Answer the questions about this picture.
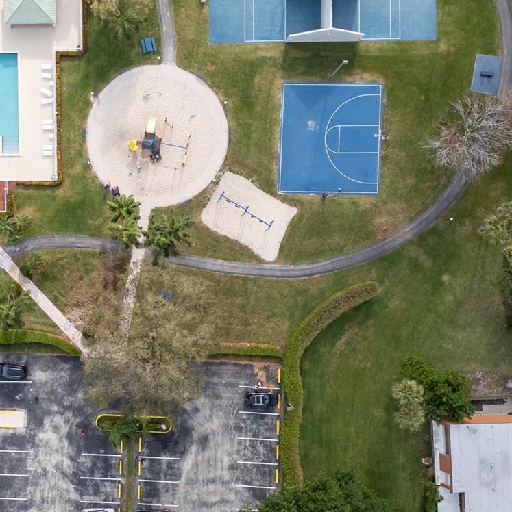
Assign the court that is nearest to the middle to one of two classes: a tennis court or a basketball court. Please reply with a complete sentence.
The court that is nearest to the middle appears to be a basketball court.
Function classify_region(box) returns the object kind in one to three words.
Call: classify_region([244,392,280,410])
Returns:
car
